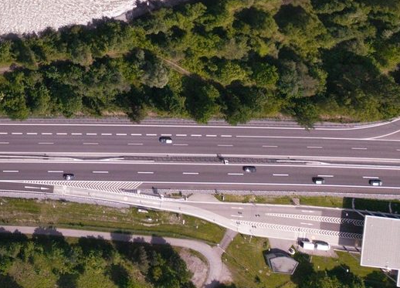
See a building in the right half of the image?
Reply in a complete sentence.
Yes, the scene does show a building in the right half of the image.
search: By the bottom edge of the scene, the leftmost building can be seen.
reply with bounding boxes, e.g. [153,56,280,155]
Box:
[264,250,298,274]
